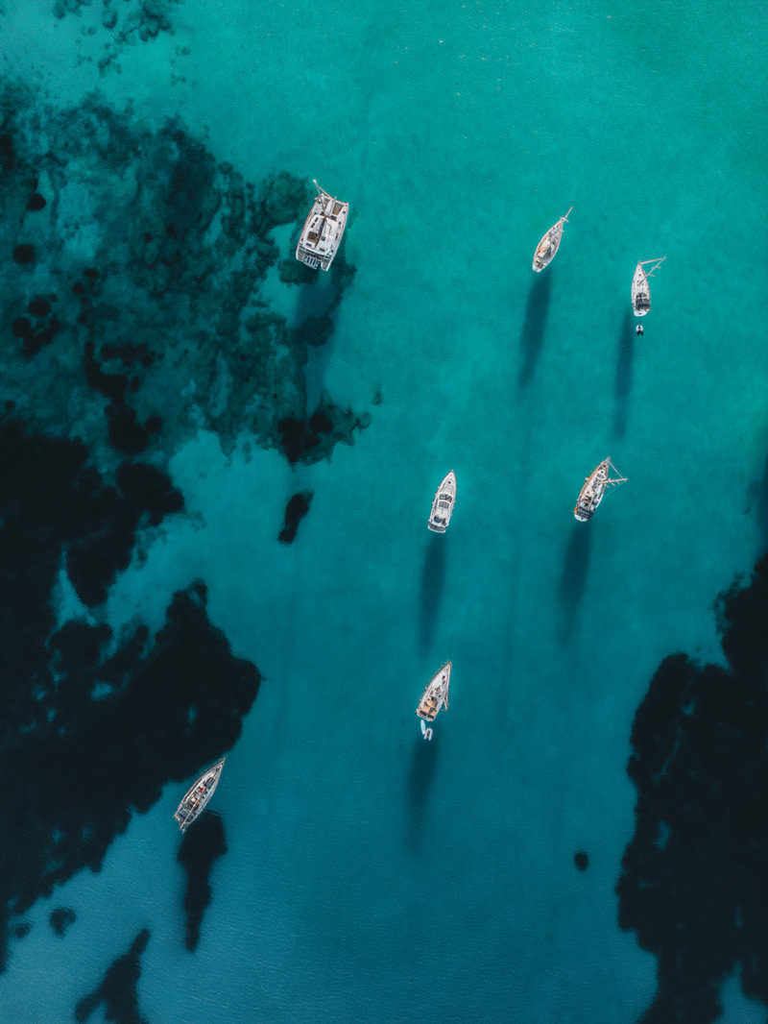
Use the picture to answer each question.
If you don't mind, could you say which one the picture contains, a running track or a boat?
boat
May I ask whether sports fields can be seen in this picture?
No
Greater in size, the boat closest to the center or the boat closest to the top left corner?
the boat closest to the top left corner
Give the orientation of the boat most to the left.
on a diagonal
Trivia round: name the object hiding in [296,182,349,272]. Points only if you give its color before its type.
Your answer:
white boat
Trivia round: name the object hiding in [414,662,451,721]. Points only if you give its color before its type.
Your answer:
white boat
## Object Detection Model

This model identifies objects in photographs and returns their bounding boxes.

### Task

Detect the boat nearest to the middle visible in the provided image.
[428,470,457,533]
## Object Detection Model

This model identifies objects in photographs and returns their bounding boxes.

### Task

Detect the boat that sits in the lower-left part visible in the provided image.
[174,758,225,832]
